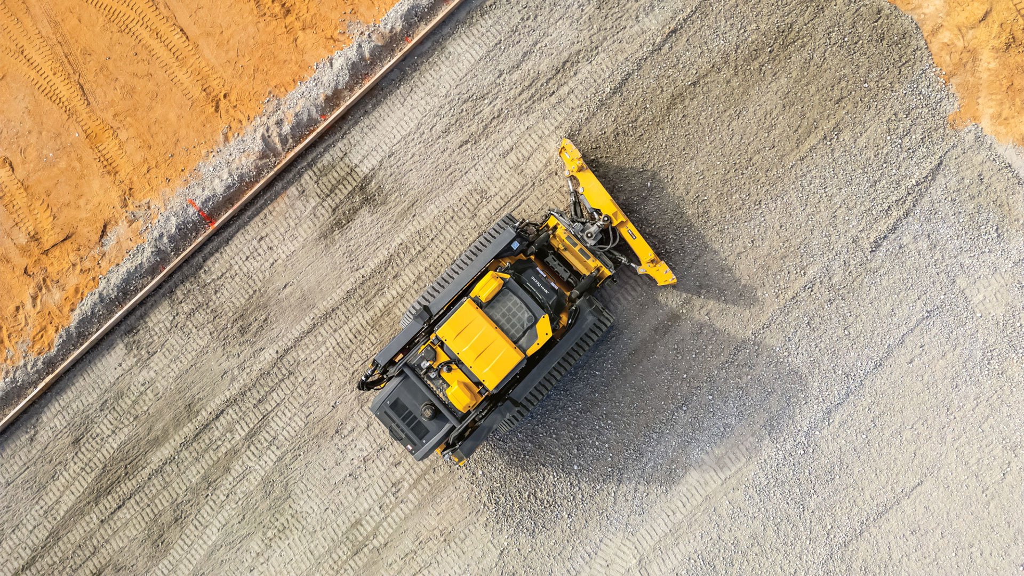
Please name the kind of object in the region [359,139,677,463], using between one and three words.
work vehicle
